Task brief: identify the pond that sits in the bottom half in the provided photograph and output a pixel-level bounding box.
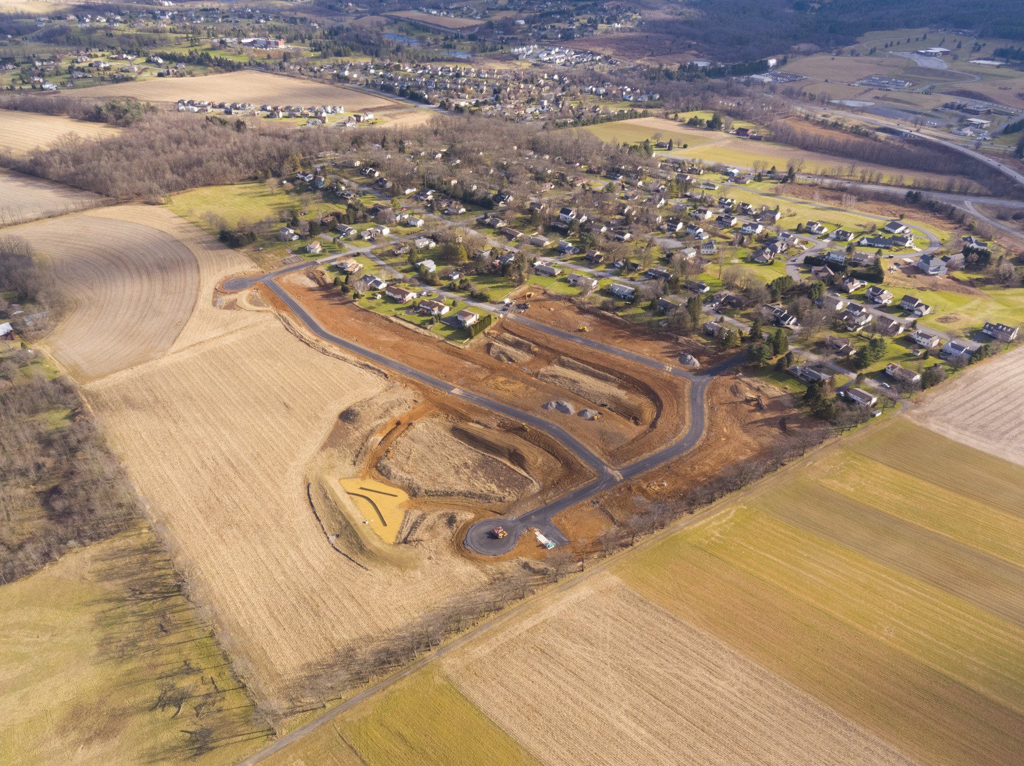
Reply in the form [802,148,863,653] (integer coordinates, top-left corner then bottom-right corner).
[340,480,410,543]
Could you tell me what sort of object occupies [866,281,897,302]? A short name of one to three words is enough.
house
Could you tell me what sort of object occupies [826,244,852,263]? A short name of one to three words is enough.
house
